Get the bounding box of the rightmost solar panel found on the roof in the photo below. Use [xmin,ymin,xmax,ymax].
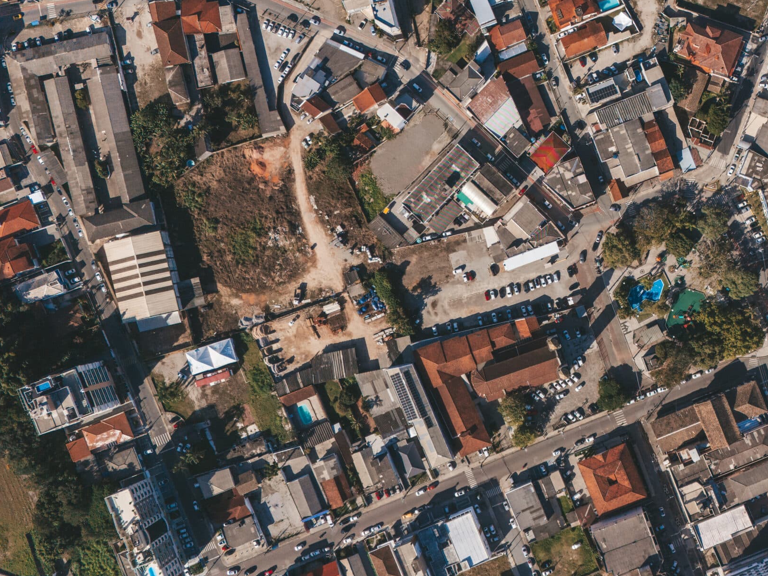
[588,84,618,103]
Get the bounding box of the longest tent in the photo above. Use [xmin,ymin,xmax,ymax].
[185,337,241,374]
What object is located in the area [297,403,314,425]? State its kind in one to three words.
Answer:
swimming pool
